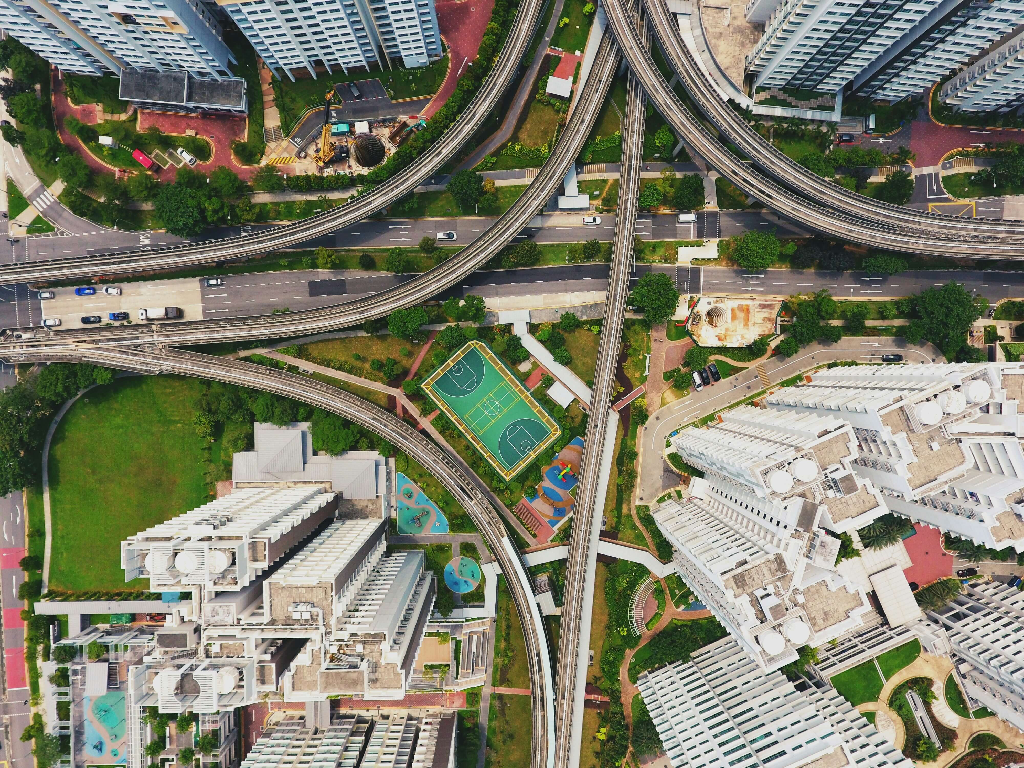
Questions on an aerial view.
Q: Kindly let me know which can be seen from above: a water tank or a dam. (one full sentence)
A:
The one in the frame is a water tank.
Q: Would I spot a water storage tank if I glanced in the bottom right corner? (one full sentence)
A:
Yes, the scene does show a water storage tank in the bottom right corner.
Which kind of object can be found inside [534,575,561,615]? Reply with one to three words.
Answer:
shed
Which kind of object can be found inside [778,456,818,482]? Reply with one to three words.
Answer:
water tank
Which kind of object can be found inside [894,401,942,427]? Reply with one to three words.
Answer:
water tank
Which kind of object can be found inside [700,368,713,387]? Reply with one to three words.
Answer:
vehicle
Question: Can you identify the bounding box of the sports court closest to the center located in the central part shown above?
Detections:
[419,334,563,486]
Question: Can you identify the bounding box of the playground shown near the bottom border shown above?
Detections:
[85,692,126,764]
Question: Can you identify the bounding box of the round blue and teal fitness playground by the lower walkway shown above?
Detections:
[443,556,482,594]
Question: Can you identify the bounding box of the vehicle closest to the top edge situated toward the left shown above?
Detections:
[347,79,361,100]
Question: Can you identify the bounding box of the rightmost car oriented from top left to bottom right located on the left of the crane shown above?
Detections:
[175,148,195,164]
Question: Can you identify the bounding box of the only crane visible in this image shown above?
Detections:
[312,84,349,172]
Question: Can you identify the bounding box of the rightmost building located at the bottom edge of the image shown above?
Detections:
[921,566,1024,741]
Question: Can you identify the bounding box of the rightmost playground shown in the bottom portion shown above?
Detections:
[524,437,585,528]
